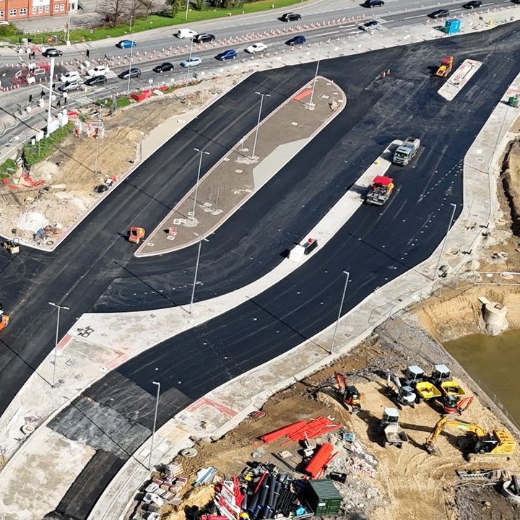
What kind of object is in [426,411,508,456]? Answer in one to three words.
work vehicle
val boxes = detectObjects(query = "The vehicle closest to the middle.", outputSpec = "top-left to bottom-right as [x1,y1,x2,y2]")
[129,224,147,244]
